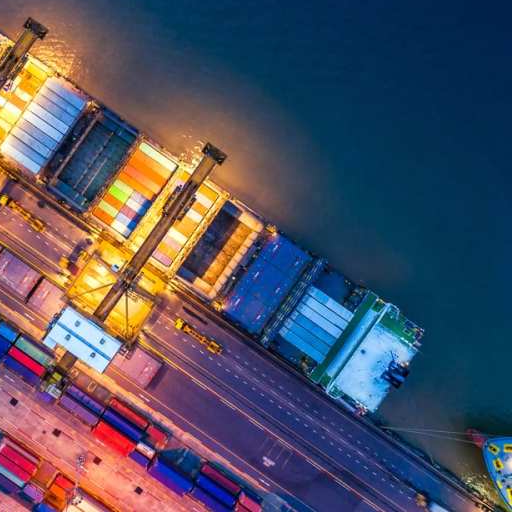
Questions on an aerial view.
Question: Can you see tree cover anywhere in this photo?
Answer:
No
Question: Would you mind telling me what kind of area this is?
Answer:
port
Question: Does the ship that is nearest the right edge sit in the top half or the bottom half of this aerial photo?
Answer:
bottom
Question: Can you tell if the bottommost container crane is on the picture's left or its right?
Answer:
left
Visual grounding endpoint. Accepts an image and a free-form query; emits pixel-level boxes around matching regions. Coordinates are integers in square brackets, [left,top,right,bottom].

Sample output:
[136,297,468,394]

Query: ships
[0,34,424,410]
[453,429,512,510]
